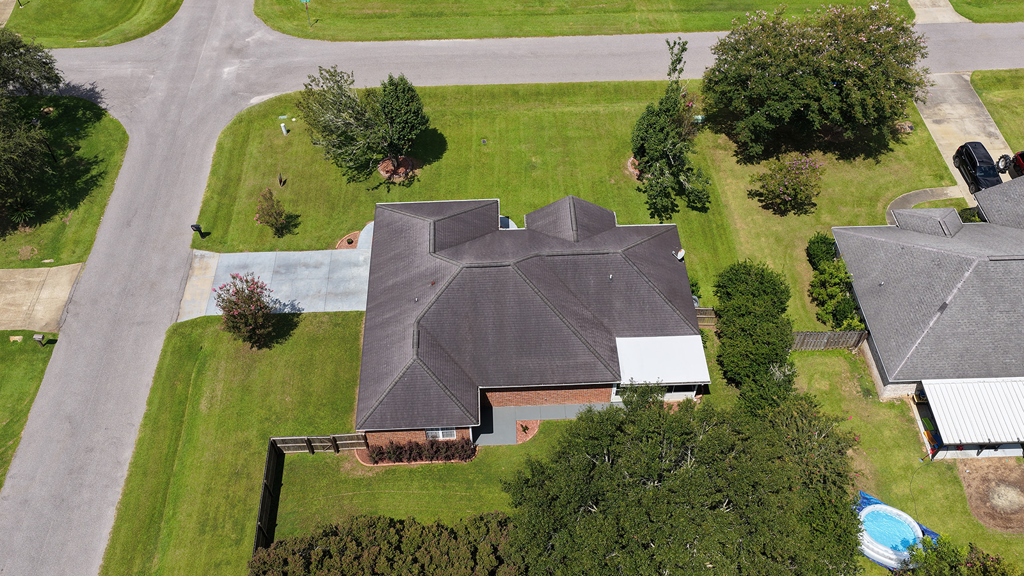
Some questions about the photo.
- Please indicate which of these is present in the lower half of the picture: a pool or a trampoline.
pool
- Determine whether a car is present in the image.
Yes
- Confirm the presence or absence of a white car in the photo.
No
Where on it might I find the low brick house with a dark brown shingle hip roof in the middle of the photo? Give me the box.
[355,195,709,446]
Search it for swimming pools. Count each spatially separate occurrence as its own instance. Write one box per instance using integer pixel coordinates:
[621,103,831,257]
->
[852,502,926,567]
